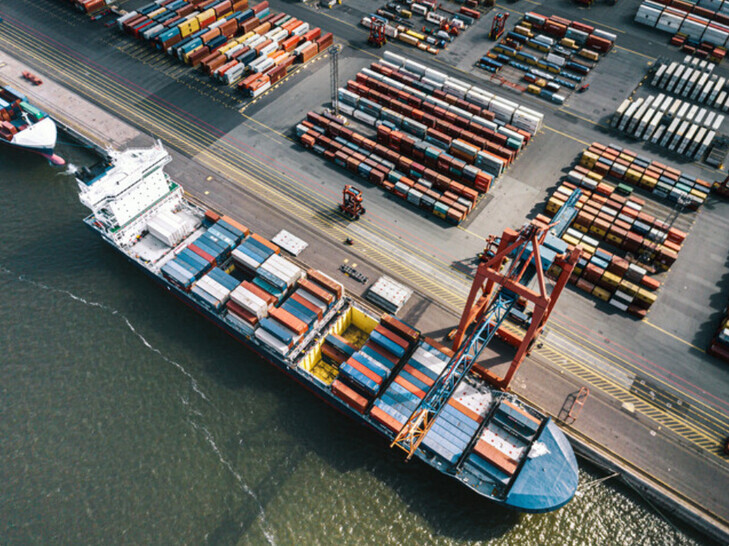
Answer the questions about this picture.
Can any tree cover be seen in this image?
No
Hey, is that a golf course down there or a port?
port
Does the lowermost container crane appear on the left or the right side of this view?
right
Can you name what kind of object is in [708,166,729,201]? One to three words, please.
work vehicle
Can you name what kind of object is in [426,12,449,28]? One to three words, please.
vehicle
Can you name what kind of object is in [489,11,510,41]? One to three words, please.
work vehicle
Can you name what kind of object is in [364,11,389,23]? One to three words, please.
vehicle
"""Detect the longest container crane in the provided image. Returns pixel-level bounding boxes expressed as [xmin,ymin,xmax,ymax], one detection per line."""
[382,181,590,464]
